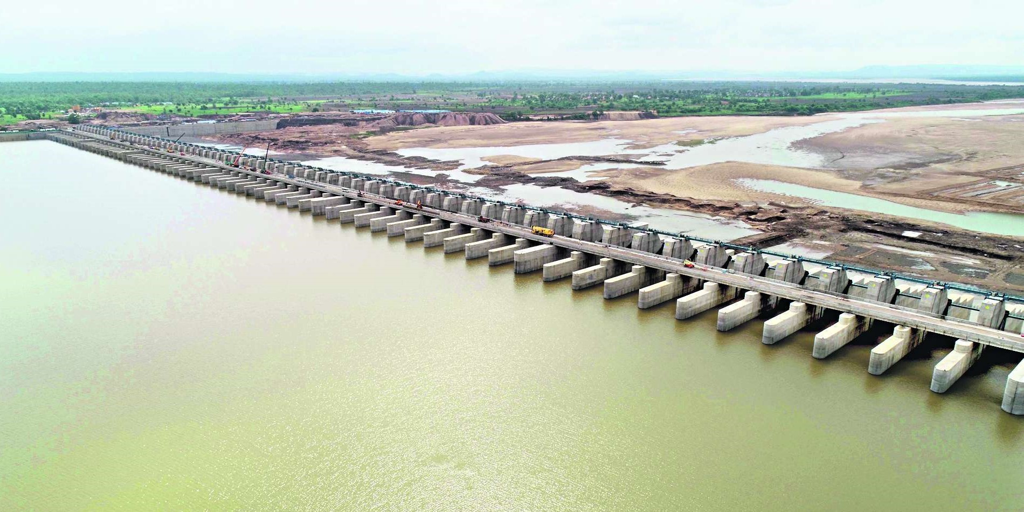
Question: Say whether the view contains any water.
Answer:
Yes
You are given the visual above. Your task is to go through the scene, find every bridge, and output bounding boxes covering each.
[64,129,1024,352]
